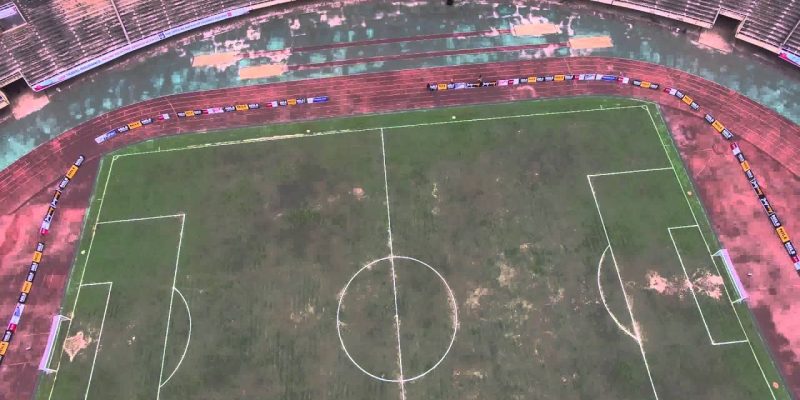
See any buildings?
No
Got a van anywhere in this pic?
No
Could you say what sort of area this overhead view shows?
sports ground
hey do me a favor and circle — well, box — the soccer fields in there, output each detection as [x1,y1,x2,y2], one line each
[28,95,798,400]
